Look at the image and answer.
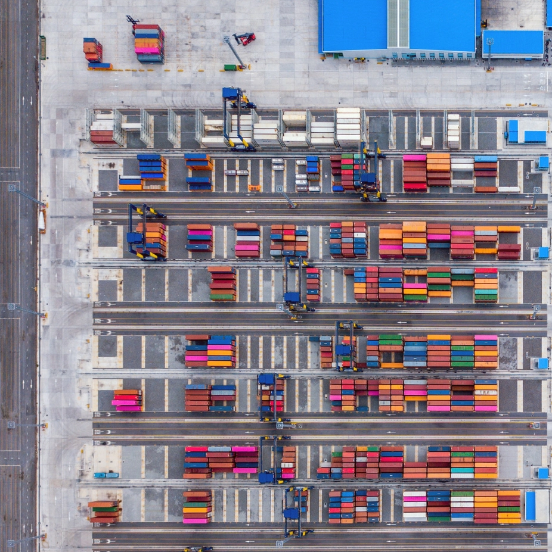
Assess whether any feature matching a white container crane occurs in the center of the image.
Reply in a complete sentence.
No, there's no white container crane to be seen in the center of the image.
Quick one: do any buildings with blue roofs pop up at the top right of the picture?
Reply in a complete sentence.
Yes, a building with a blue roof is visible at the top right of the picture.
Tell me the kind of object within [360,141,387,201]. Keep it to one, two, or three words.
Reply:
container crane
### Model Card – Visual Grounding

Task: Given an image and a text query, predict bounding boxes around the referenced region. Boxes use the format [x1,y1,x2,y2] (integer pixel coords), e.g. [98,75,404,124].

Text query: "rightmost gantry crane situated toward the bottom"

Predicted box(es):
[334,320,363,373]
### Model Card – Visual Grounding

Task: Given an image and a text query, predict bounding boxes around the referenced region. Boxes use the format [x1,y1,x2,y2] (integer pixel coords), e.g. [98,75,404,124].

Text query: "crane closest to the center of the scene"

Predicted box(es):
[282,256,315,311]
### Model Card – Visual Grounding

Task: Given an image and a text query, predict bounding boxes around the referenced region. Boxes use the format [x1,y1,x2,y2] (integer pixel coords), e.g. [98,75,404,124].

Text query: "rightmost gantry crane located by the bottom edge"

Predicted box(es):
[281,485,313,537]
